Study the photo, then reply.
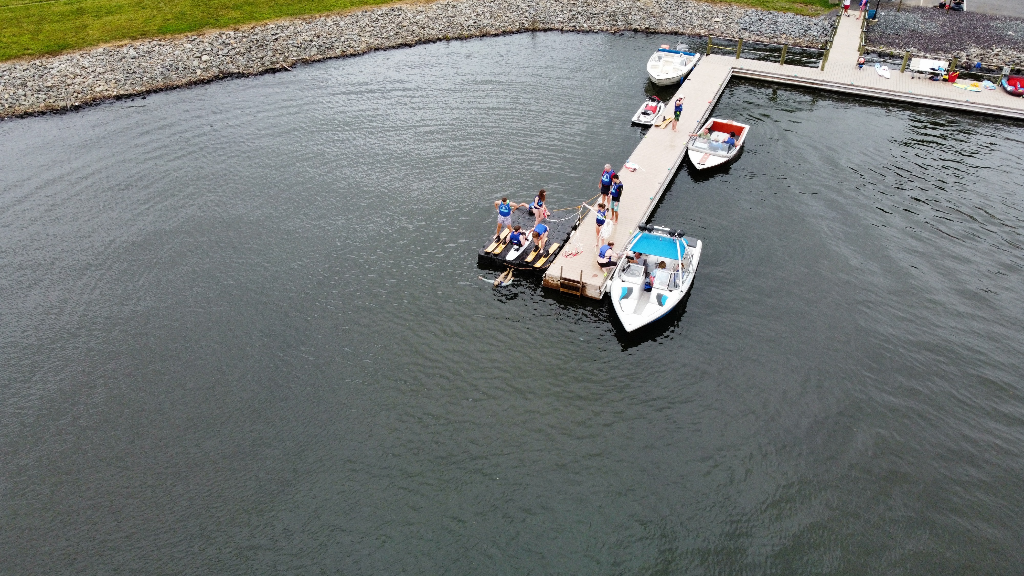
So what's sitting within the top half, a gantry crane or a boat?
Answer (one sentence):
It is a boat that can be seen within the top half.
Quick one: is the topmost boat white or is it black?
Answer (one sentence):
The topmost boat looks white in the image.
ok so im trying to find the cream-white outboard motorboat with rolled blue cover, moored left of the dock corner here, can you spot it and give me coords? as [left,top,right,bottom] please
[645,36,699,86]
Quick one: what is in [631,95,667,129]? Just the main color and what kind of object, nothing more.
white boat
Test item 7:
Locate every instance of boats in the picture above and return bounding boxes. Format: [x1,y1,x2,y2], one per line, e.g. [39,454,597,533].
[631,95,667,129]
[611,221,702,338]
[688,119,751,172]
[645,36,699,86]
